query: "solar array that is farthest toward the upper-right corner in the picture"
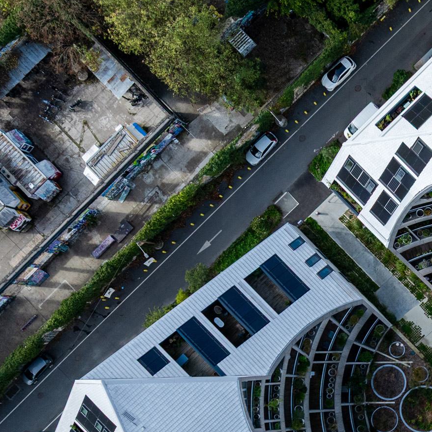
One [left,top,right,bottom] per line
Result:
[402,92,432,128]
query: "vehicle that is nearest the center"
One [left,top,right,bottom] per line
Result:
[244,131,281,166]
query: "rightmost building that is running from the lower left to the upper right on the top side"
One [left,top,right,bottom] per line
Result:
[82,123,151,186]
